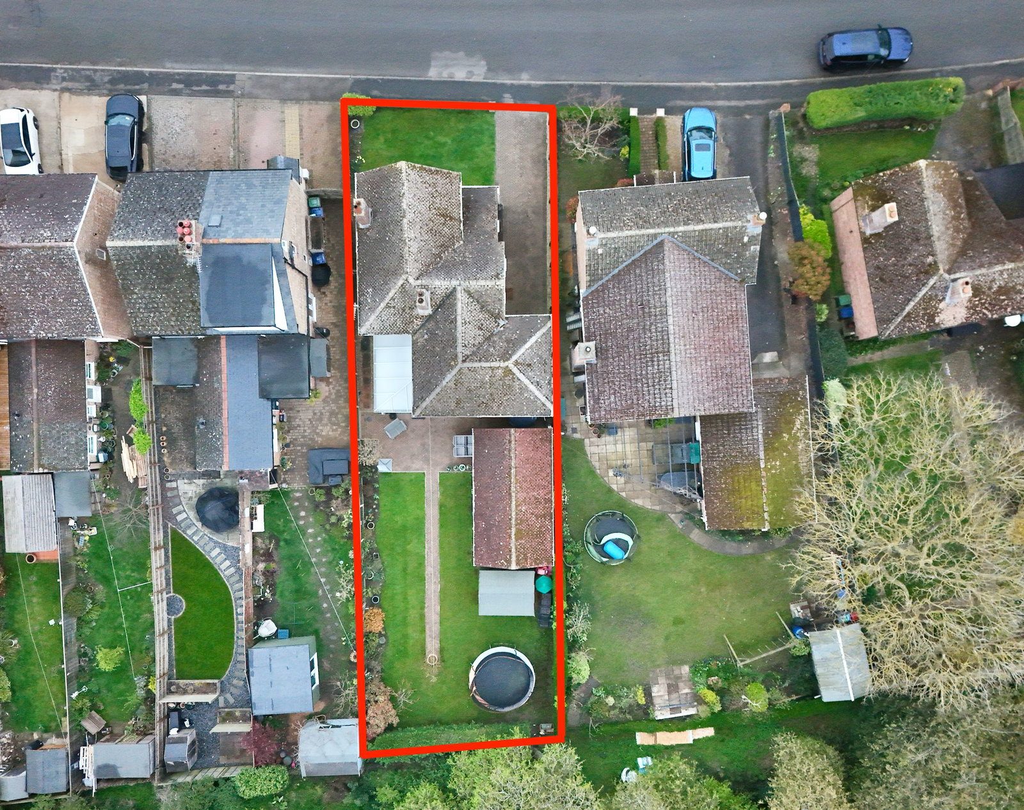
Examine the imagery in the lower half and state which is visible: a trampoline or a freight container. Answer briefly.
trampoline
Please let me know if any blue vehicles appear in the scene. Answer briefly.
Yes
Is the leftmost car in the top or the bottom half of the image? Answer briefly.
top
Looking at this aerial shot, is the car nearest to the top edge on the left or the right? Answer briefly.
right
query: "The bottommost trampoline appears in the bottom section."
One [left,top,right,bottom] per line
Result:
[468,646,533,711]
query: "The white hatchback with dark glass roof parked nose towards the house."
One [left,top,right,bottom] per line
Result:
[0,107,44,172]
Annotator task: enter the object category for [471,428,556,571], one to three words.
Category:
building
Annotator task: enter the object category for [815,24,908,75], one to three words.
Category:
car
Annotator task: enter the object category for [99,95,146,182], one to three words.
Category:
car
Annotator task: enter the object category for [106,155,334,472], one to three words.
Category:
house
